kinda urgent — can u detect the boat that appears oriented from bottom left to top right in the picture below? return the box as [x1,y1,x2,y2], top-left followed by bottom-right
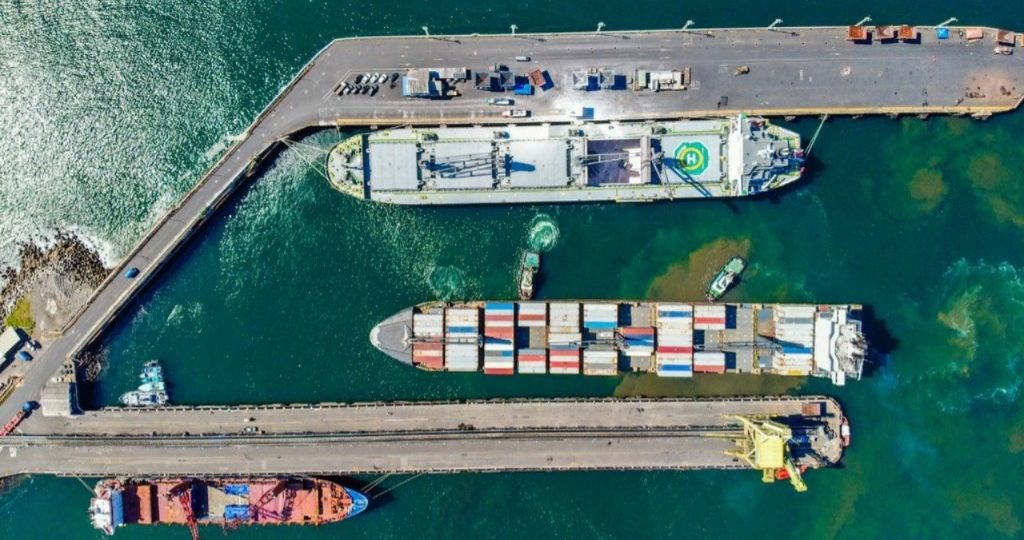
[704,252,750,302]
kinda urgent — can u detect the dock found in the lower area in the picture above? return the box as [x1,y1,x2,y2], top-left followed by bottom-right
[0,393,846,478]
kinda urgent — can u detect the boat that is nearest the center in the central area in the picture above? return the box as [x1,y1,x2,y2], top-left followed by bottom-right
[518,249,541,299]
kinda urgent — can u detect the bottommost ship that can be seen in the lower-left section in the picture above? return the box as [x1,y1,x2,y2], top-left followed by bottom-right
[87,475,369,540]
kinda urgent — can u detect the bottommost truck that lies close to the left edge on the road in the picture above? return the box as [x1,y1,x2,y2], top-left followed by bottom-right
[0,402,33,435]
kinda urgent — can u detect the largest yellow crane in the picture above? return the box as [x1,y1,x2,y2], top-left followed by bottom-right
[701,411,809,491]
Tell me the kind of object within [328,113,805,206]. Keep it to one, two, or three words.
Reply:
ship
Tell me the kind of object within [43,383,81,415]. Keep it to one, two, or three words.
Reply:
house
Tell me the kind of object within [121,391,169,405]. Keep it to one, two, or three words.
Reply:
boat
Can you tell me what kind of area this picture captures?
port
